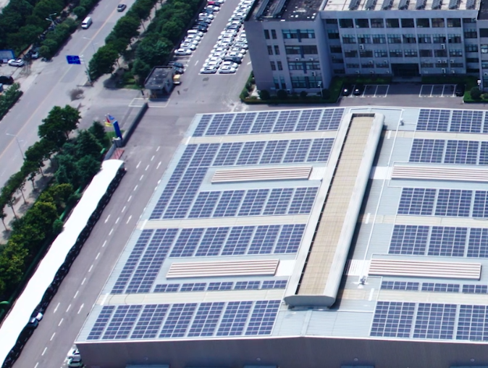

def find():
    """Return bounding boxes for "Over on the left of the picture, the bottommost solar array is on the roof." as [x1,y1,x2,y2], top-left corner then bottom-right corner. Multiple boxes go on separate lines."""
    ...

[87,300,282,340]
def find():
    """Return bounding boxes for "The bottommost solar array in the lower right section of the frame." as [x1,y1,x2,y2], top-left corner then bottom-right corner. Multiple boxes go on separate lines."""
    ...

[370,302,488,341]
